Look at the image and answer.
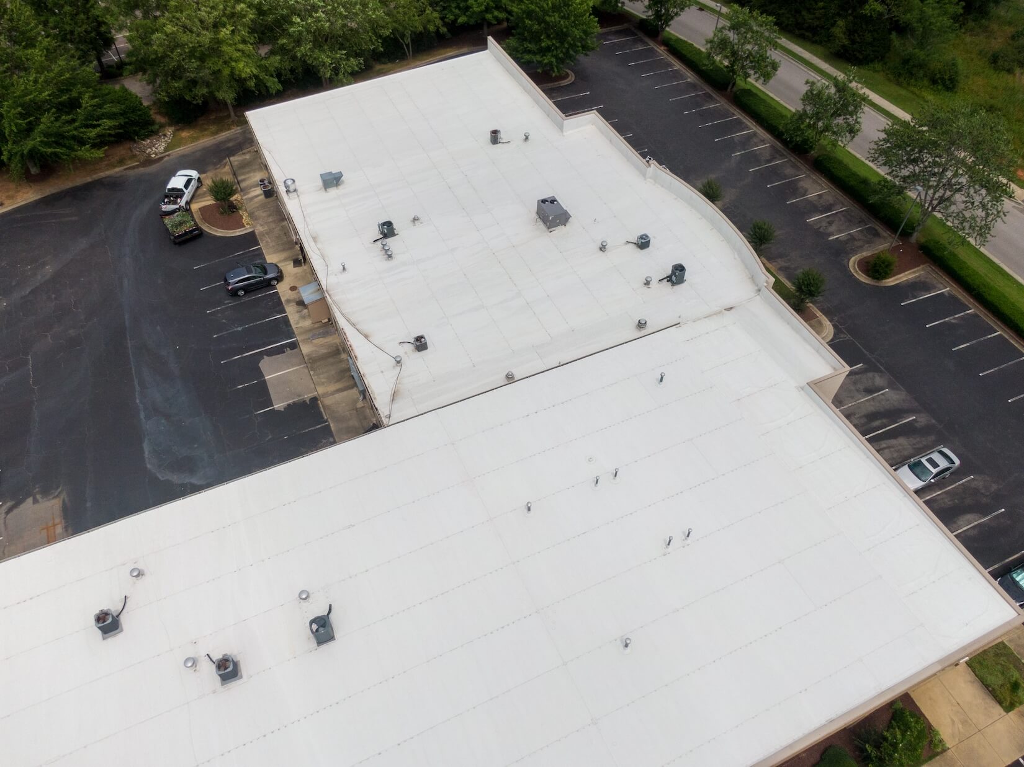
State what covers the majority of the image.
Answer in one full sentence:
The scene is dominated by buildings.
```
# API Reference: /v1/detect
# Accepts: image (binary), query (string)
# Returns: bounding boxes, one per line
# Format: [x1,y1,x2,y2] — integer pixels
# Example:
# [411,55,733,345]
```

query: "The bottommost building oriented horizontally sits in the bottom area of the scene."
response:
[0,287,1024,767]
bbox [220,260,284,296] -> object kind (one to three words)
car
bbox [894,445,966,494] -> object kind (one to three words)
car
